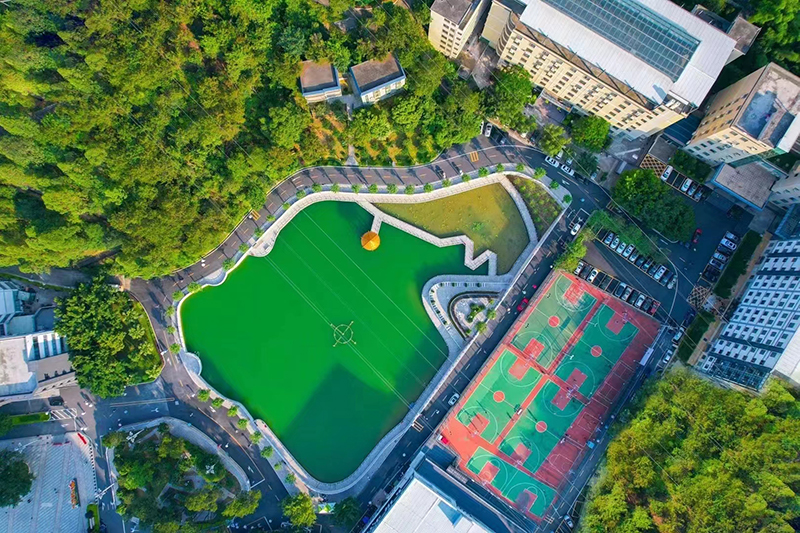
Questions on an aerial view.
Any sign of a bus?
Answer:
No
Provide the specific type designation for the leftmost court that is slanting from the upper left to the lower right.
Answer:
basketball court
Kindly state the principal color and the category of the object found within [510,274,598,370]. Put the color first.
green basketball court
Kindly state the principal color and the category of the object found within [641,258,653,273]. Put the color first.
blue vehicle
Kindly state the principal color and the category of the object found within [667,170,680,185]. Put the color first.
black vehicle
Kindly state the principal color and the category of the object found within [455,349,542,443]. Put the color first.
green basketball court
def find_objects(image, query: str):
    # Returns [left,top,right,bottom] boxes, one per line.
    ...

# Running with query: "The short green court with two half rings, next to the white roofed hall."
[465,446,557,518]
